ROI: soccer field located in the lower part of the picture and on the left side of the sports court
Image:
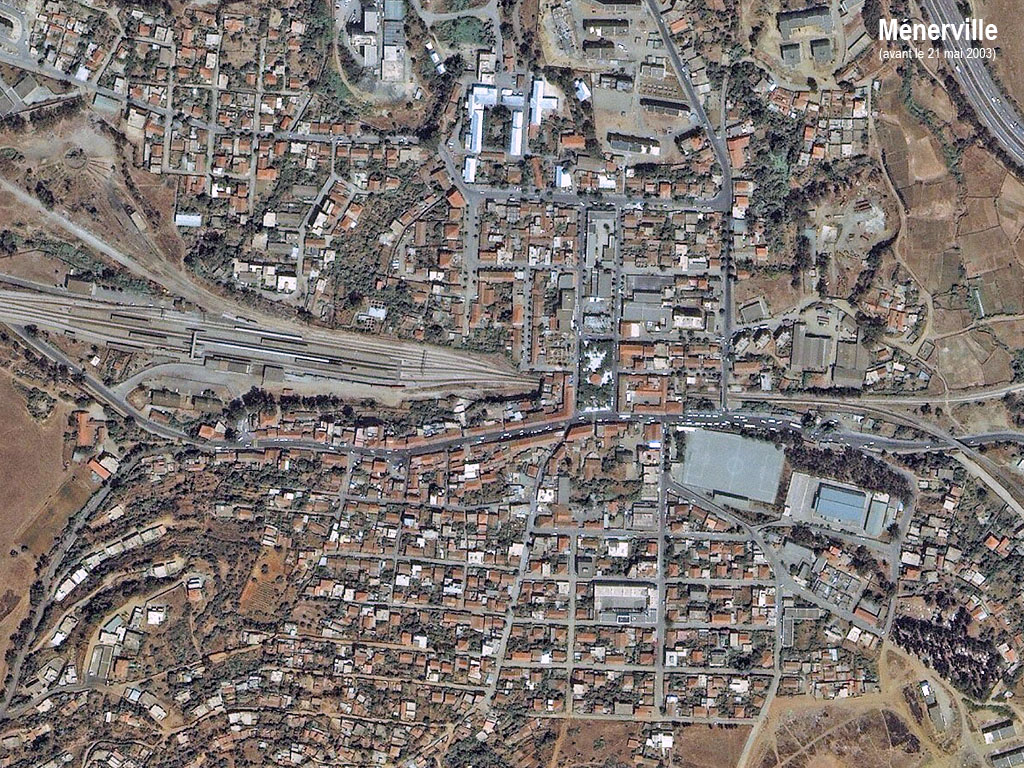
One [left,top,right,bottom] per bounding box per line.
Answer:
[682,429,784,504]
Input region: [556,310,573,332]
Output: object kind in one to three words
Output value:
house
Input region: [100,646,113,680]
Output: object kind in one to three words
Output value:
shed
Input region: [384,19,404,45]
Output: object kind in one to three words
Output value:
building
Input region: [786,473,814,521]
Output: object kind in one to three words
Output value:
sports court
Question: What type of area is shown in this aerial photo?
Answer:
residential area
